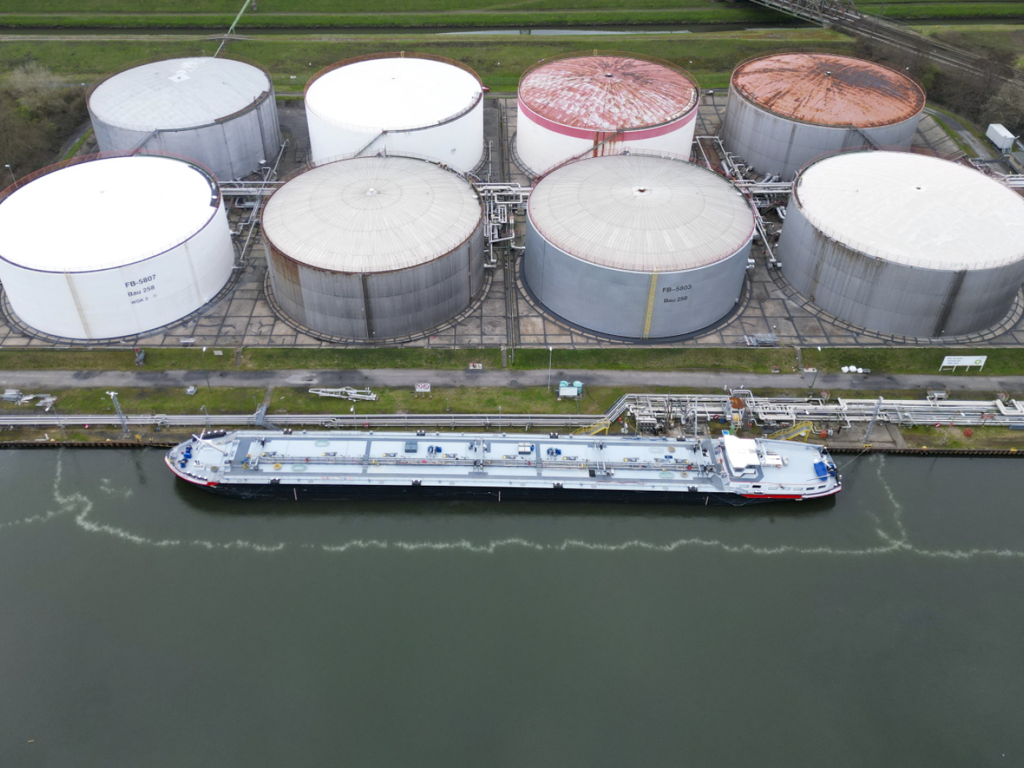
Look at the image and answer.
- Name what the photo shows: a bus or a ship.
ship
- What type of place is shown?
industrial area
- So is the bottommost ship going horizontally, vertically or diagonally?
horizontally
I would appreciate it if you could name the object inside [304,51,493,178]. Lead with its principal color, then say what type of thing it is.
white storage tank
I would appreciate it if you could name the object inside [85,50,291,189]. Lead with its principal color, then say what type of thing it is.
white storage tank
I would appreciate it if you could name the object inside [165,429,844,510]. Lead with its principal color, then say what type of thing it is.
white ship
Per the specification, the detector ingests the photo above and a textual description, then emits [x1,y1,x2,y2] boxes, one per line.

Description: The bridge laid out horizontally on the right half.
[748,0,865,32]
